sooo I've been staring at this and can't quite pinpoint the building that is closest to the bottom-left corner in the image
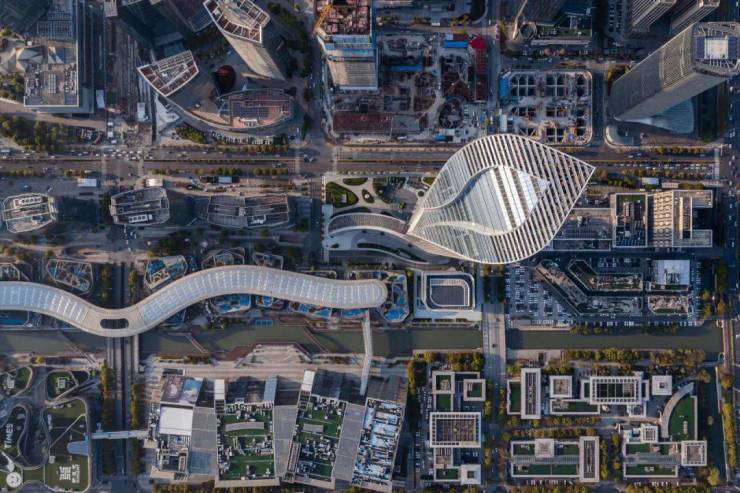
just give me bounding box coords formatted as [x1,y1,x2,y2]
[67,437,92,456]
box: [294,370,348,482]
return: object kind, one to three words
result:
building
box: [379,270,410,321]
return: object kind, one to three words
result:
building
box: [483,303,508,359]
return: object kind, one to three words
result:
bridge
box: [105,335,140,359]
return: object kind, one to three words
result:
bridge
